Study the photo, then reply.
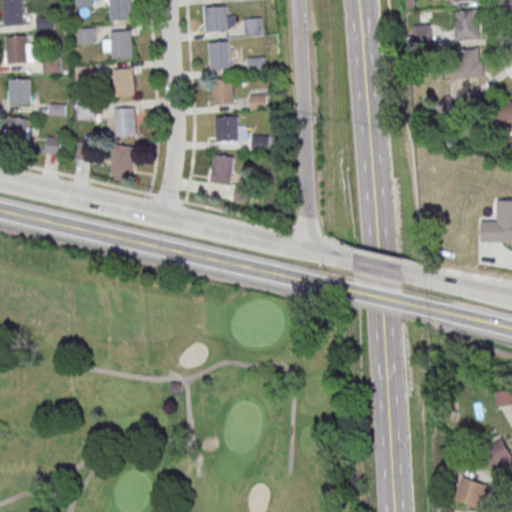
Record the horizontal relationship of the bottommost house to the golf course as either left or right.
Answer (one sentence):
Looking at the picture, you'll find the bottommost house to the right of the golf course.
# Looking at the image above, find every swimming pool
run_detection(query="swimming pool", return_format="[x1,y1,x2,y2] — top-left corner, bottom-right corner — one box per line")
[473,402,489,421]
[78,6,93,20]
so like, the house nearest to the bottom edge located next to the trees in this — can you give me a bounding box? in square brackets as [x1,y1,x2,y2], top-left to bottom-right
[456,477,486,508]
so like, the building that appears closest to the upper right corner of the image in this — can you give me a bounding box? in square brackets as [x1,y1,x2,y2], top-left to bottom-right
[455,10,480,40]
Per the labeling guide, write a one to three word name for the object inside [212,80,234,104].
house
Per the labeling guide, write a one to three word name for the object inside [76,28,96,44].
building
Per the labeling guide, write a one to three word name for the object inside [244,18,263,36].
building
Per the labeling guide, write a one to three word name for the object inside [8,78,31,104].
house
